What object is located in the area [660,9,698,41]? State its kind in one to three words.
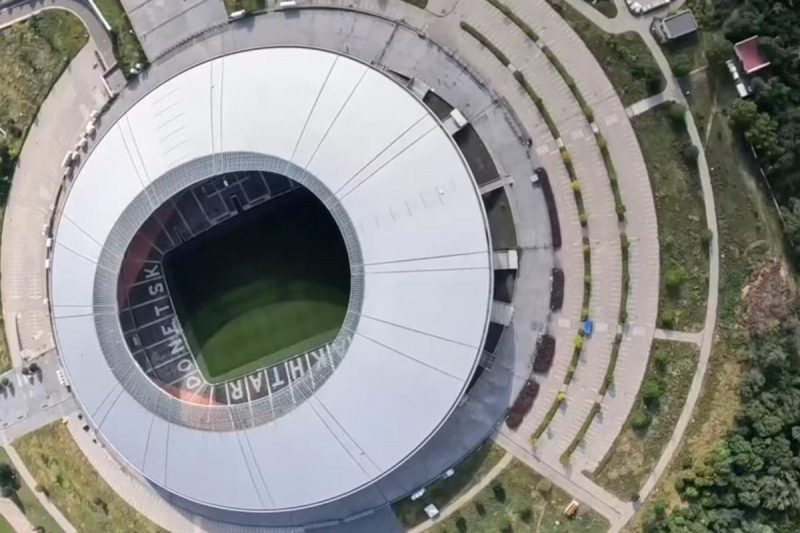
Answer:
house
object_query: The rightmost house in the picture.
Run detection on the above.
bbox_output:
[730,37,769,74]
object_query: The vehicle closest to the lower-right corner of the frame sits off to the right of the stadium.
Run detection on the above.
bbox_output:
[562,499,579,517]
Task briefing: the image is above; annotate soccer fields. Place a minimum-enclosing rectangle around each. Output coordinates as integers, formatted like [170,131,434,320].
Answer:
[159,181,365,383]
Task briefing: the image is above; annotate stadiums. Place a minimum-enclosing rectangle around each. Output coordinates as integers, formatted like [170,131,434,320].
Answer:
[49,47,493,513]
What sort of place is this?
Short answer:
sports ground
